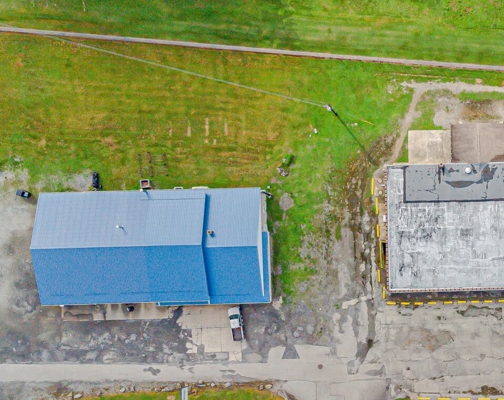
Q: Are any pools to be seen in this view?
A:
No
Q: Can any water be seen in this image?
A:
No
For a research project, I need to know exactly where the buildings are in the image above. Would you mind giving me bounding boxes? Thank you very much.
[30,185,275,309]
[381,163,504,296]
